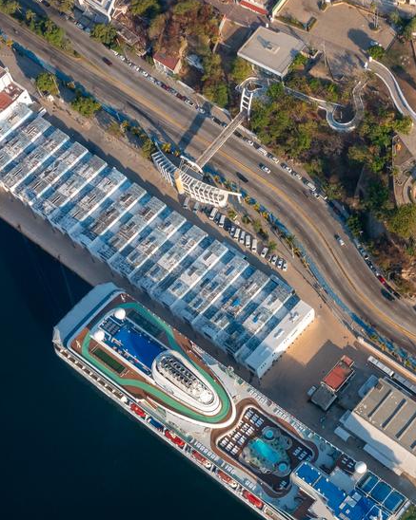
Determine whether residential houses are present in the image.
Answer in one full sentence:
Yes, there's a residential house down there.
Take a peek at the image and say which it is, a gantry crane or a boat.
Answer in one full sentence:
The image shows a boat.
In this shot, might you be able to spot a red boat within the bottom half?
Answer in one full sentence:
Yes, there is a red boat within the bottom half.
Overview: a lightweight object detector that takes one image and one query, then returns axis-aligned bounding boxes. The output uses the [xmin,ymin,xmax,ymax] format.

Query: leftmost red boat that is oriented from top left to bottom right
[126,400,145,416]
